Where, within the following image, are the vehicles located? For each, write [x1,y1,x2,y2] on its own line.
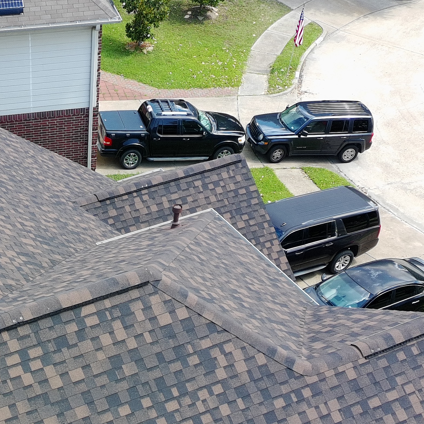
[247,99,379,163]
[95,93,251,170]
[311,258,424,317]
[266,189,388,279]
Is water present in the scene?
No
